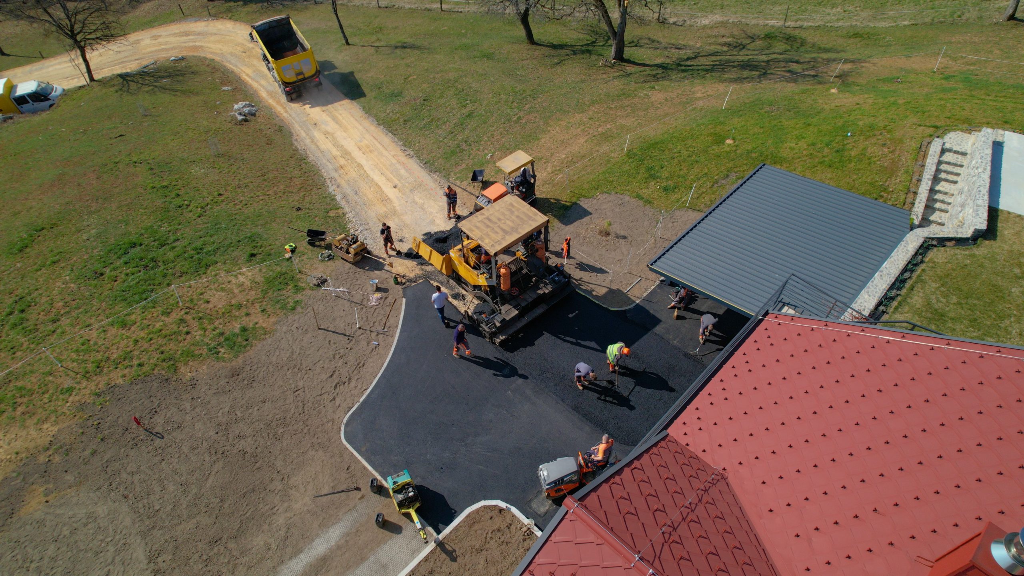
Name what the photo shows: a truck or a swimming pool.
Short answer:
truck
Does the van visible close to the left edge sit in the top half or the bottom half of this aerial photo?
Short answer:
top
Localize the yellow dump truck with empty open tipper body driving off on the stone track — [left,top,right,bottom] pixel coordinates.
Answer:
[249,12,325,98]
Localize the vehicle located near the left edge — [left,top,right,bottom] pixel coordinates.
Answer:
[0,72,68,114]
